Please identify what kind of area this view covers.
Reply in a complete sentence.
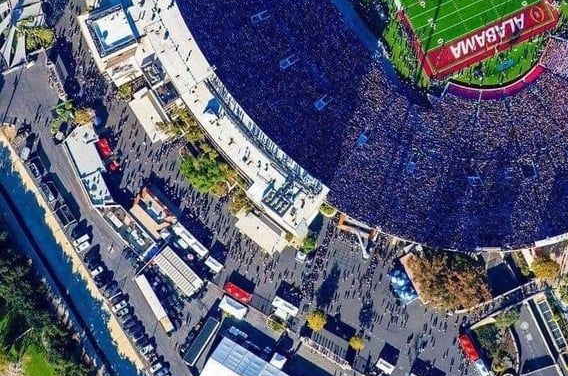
This looks like a sports ground.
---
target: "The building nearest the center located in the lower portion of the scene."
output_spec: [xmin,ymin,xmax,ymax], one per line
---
[235,209,285,255]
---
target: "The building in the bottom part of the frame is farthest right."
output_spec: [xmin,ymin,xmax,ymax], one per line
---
[534,292,568,357]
